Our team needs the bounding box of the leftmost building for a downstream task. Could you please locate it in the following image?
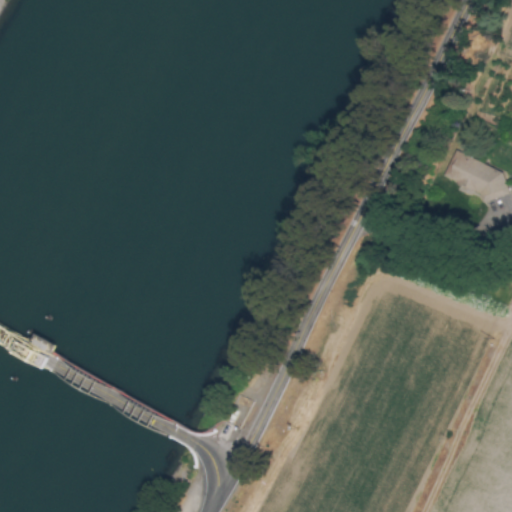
[30,330,62,352]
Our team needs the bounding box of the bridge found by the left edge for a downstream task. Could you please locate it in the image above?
[0,322,183,440]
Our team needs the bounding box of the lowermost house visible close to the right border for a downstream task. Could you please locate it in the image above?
[446,150,510,203]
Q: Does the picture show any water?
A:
Yes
